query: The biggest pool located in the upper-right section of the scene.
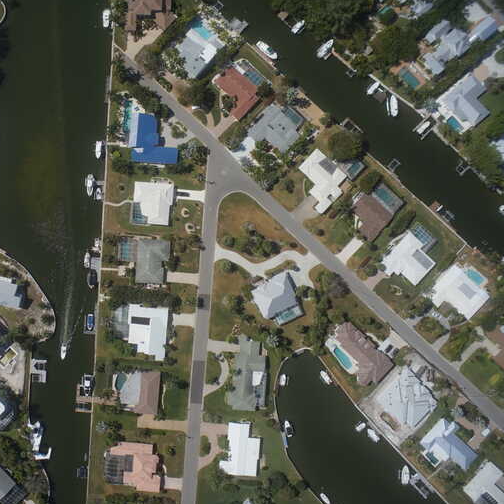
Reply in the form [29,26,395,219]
[434,71,476,133]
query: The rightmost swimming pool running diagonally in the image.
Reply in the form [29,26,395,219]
[462,264,487,289]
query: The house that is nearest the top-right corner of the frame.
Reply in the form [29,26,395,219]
[470,16,496,43]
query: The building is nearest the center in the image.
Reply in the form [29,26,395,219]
[252,271,304,326]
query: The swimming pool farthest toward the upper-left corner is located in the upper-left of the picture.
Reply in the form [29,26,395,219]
[119,95,144,144]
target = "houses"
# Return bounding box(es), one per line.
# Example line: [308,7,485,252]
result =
[128,110,177,163]
[422,16,472,76]
[216,58,270,120]
[226,335,266,411]
[0,398,15,426]
[486,325,504,369]
[105,442,159,492]
[334,319,397,390]
[462,461,504,504]
[113,304,167,360]
[444,74,491,128]
[121,371,160,415]
[0,277,24,308]
[176,29,215,79]
[298,148,364,214]
[247,105,305,152]
[252,271,304,326]
[395,0,433,16]
[381,223,435,286]
[219,422,262,476]
[131,181,174,226]
[118,239,170,284]
[353,184,404,241]
[419,418,477,470]
[0,467,26,504]
[431,263,489,319]
[125,0,176,32]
